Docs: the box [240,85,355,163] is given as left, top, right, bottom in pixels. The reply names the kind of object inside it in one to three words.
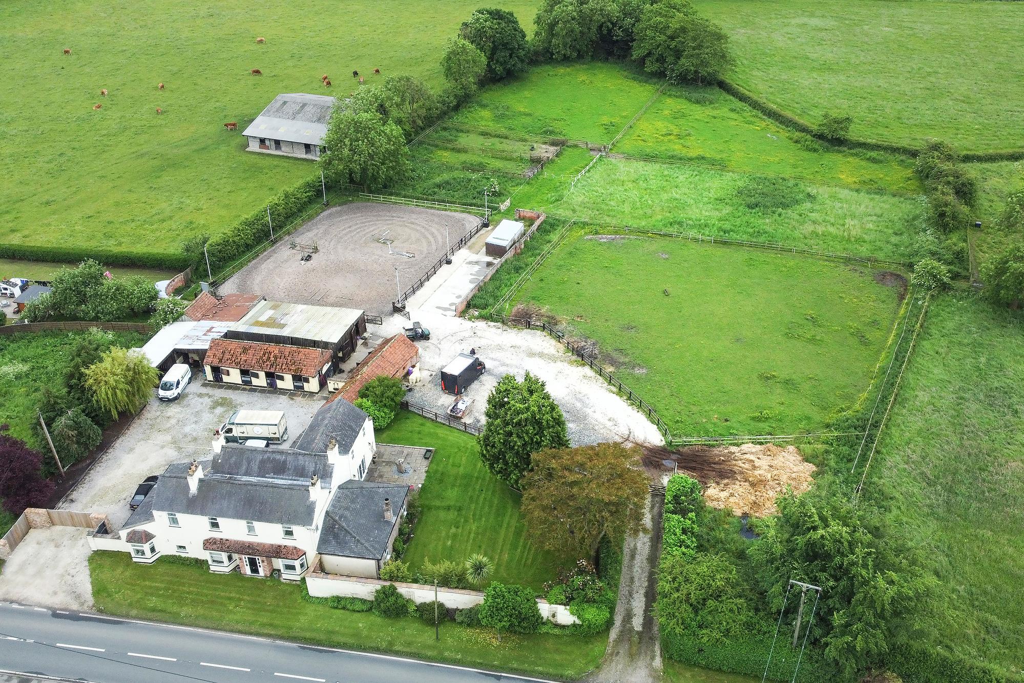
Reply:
barn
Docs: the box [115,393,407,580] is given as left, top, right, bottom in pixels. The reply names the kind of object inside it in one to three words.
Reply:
house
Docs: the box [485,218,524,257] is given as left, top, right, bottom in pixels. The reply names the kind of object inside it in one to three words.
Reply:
building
